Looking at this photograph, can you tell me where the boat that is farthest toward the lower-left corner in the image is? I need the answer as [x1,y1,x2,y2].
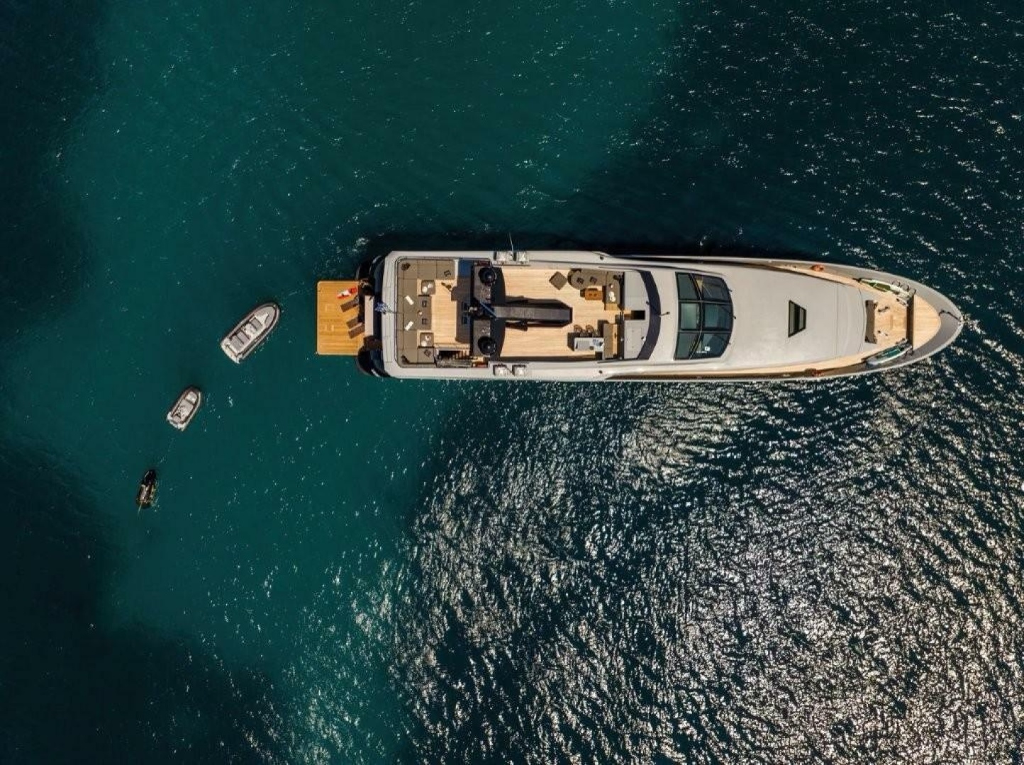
[138,470,157,515]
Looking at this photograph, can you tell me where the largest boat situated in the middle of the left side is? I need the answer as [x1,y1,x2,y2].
[222,302,281,362]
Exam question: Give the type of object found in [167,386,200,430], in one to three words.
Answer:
boat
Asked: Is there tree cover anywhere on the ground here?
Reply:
No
